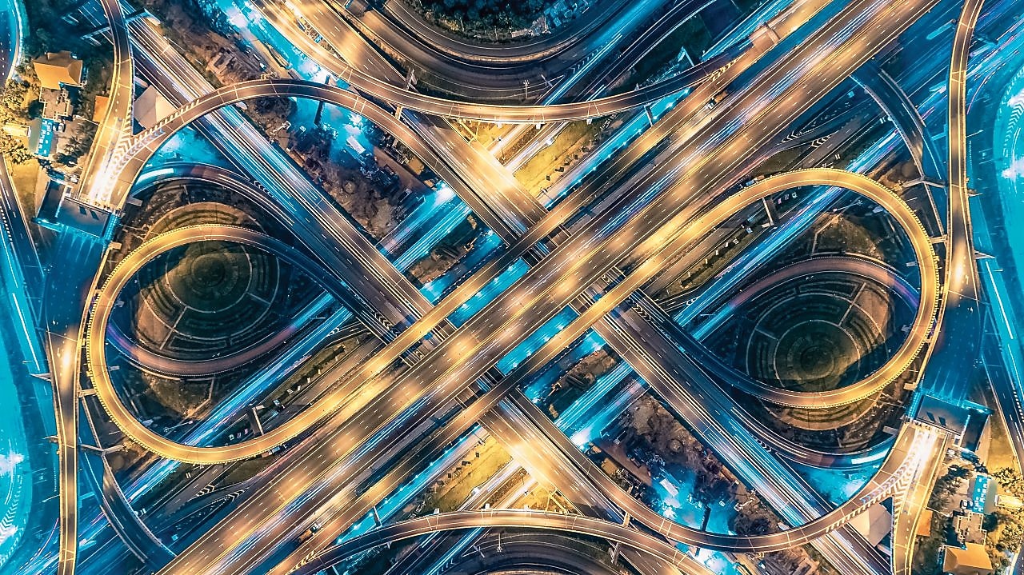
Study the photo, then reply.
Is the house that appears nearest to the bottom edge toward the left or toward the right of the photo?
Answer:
right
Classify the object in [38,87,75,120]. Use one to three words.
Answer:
house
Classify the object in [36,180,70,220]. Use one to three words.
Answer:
building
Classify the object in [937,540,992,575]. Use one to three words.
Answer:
house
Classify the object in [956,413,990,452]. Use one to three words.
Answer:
building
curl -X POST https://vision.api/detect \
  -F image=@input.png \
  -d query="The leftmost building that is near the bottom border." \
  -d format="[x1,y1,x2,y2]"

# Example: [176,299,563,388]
[850,505,892,547]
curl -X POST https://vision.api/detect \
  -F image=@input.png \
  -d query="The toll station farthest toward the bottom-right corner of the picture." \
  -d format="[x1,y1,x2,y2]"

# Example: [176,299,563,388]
[904,392,969,436]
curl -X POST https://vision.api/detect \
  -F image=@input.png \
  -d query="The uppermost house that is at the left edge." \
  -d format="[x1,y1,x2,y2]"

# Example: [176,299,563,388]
[33,49,88,92]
